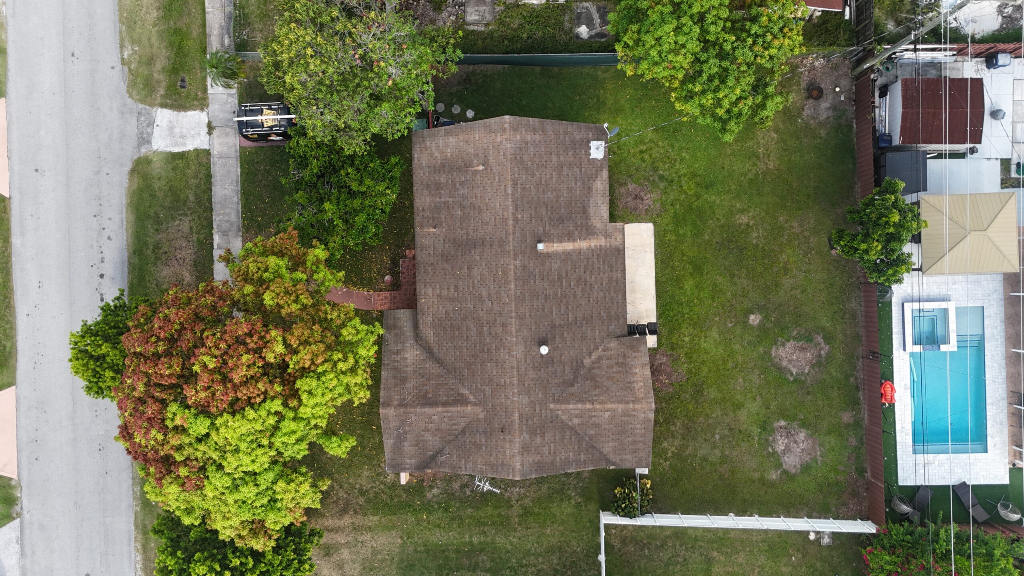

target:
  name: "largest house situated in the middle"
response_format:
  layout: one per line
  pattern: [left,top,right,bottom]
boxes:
[379,116,655,484]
